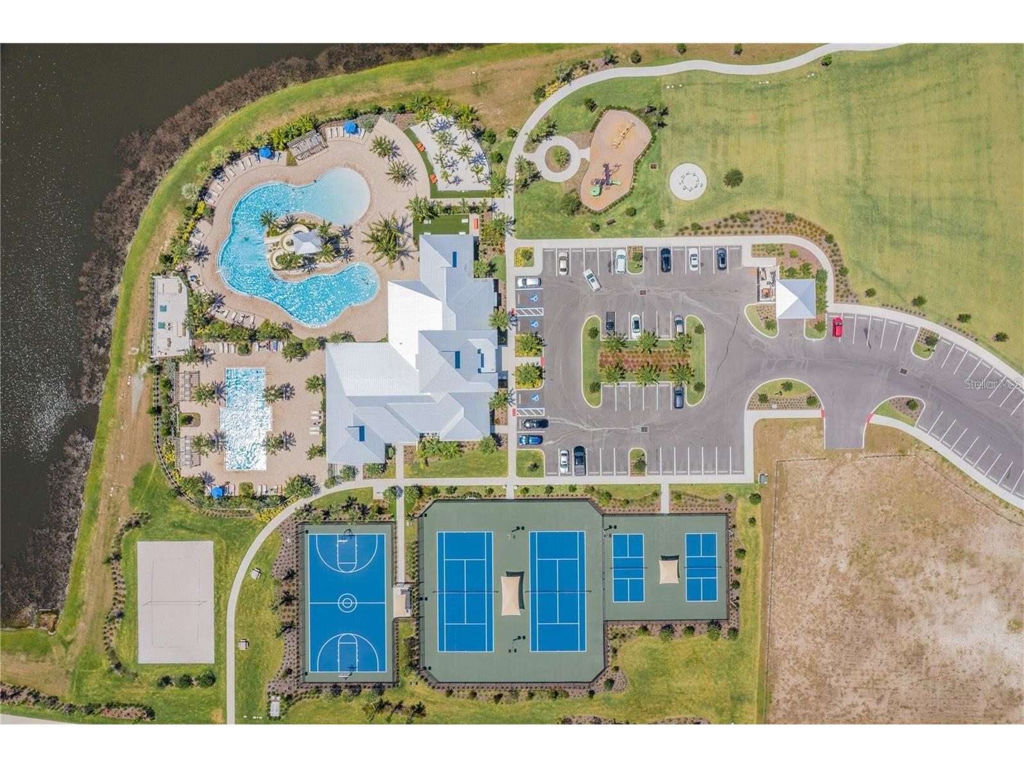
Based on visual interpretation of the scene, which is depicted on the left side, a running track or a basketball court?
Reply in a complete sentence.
There is a basketball court on the left side.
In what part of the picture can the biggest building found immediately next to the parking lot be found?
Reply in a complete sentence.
The biggest building found immediately next to the parking lot appears toward the center of the photo.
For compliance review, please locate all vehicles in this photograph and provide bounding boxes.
[673,383,685,407]
[559,449,570,474]
[615,250,627,274]
[716,247,728,272]
[517,276,540,288]
[605,310,617,337]
[660,248,672,273]
[631,315,642,339]
[574,446,586,476]
[524,418,548,430]
[688,247,700,272]
[831,316,845,339]
[584,268,601,292]
[519,435,542,446]
[673,315,685,338]
[558,251,569,275]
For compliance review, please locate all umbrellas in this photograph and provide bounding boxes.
[344,121,356,133]
[260,146,272,159]
[212,485,224,498]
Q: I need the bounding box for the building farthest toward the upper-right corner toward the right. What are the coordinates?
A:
[771,279,816,319]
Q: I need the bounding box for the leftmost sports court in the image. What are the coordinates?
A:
[138,541,214,664]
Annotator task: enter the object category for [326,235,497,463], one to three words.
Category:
building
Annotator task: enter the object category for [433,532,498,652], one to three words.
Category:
tennis court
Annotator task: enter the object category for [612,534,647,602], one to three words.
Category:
sports court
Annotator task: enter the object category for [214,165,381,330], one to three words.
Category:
swimming pool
